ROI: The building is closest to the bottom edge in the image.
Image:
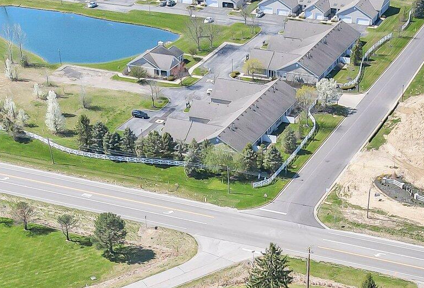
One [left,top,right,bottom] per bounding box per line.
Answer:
[149,77,297,161]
